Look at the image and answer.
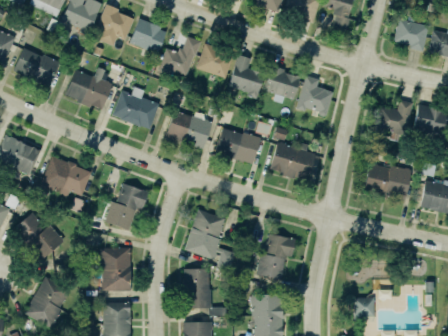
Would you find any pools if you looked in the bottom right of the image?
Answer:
Yes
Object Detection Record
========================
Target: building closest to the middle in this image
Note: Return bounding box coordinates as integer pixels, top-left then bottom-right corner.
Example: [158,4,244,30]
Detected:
[218,125,262,164]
